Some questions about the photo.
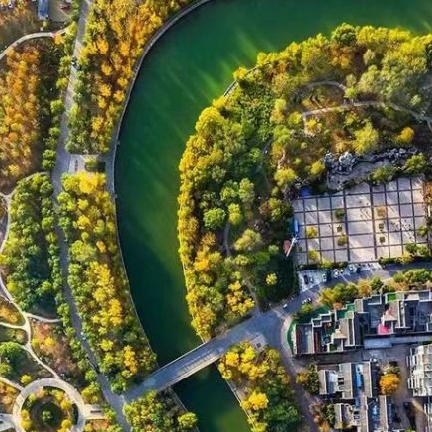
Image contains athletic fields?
No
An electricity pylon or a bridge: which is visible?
bridge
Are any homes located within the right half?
Yes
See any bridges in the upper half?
No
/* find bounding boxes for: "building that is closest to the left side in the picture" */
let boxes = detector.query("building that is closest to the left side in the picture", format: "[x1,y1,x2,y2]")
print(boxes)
[37,0,50,24]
